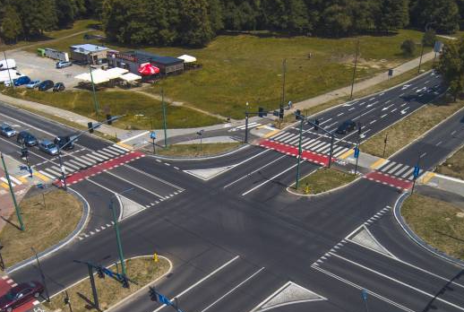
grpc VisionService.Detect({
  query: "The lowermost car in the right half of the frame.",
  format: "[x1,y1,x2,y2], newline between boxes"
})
[335,118,359,134]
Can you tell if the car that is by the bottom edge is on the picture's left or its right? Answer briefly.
left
